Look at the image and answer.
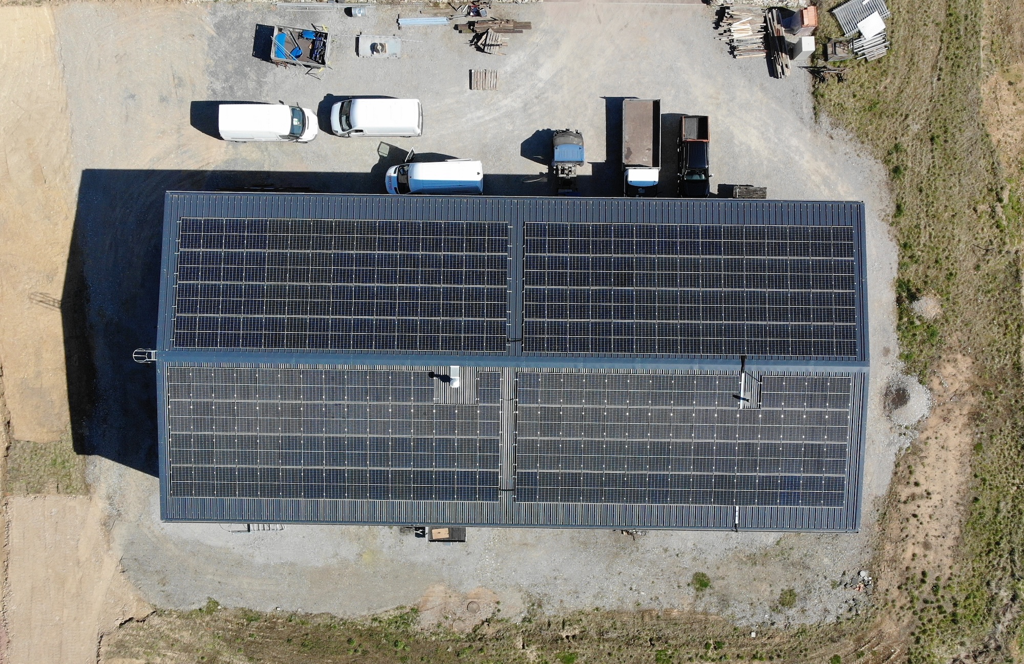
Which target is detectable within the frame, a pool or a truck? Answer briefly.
truck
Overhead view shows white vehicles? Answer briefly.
Yes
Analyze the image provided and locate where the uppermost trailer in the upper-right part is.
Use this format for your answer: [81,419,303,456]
[815,35,858,64]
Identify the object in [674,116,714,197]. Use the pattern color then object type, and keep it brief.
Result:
black truck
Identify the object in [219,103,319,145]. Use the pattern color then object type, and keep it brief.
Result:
white van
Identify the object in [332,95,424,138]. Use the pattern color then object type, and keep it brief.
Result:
white van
